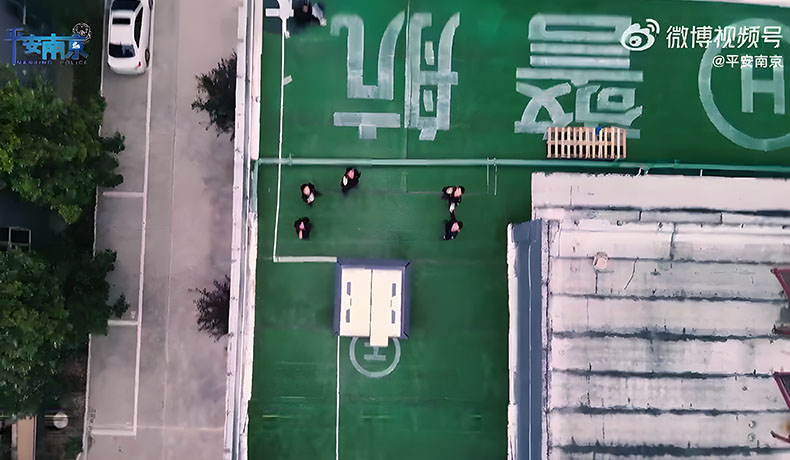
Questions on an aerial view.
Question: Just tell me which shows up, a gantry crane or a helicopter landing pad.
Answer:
helicopter landing pad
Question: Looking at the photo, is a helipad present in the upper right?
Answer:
Yes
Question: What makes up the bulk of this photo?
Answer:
buildings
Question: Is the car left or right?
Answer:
left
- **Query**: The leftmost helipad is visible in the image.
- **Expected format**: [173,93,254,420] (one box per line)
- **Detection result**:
[349,337,400,377]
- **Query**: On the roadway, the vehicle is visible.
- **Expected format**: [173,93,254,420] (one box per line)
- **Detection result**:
[102,0,153,76]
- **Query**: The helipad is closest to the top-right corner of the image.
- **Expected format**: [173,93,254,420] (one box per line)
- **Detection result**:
[700,19,790,149]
